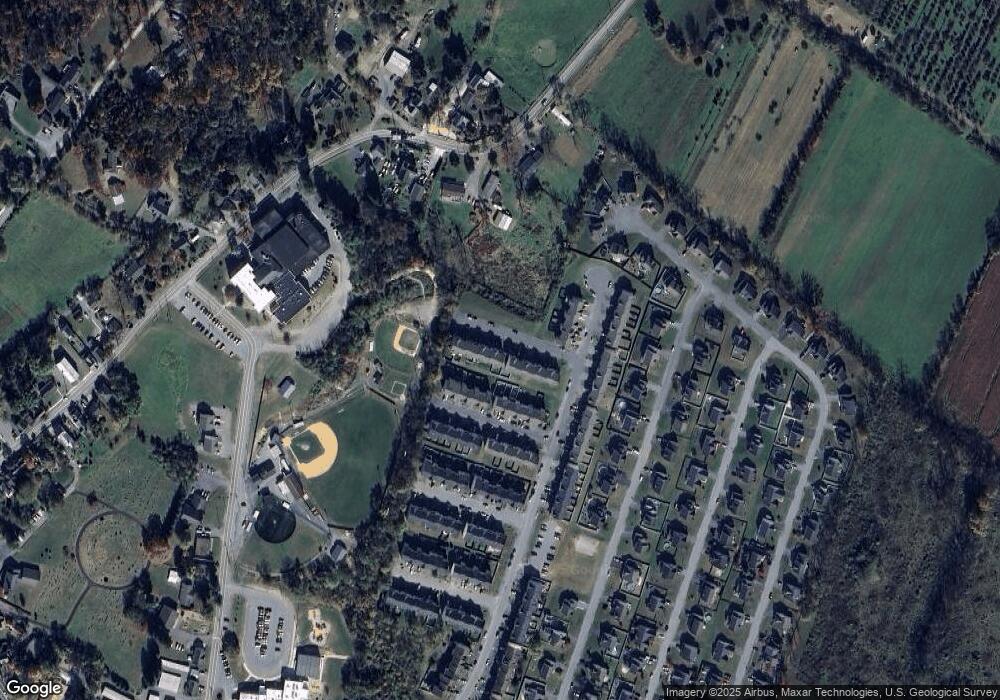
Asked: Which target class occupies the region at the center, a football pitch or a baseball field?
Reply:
baseball field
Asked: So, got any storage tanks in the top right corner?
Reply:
No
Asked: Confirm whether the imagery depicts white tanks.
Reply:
No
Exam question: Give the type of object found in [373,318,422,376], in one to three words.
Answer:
baseball field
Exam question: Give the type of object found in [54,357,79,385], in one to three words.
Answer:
building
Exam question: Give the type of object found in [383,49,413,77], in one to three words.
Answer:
barn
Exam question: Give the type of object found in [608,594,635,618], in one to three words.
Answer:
house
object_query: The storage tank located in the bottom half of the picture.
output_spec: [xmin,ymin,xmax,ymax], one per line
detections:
[255,502,295,543]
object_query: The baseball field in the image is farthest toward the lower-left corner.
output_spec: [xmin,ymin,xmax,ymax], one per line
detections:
[280,388,397,527]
